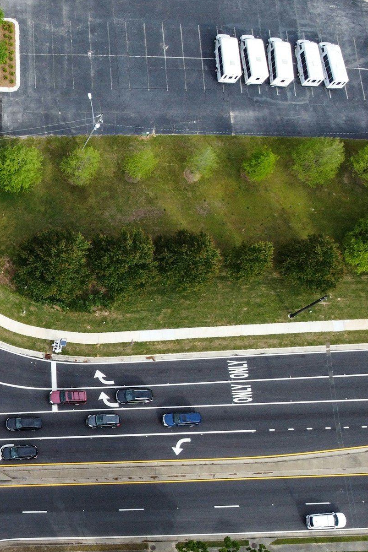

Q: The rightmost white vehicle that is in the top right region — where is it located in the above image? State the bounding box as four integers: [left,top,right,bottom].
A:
[321,41,352,91]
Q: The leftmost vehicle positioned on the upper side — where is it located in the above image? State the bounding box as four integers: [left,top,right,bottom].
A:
[214,36,242,84]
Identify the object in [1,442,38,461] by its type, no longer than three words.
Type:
car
